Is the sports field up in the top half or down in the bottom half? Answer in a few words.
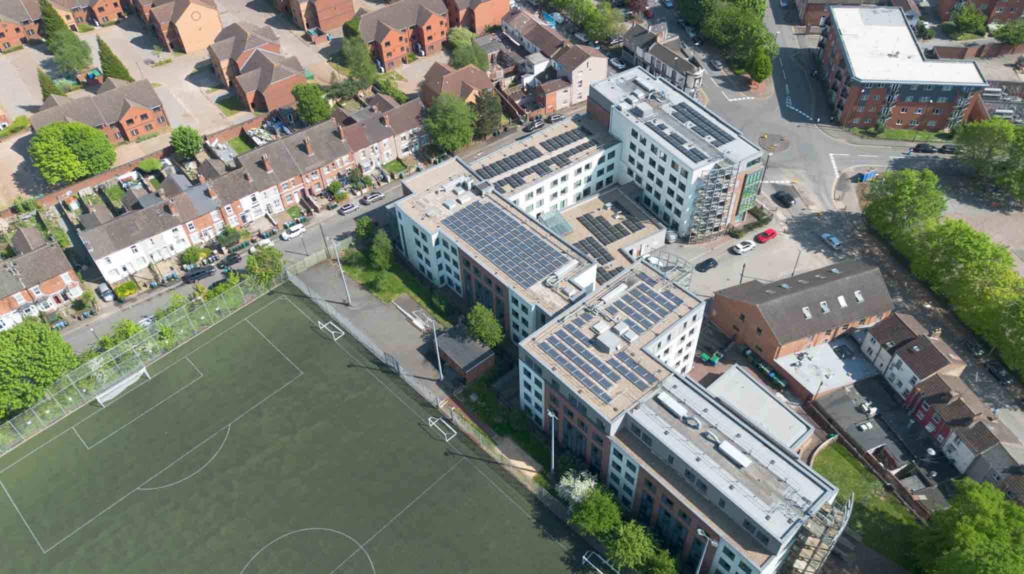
bottom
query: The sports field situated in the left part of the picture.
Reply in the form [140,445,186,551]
[0,283,601,574]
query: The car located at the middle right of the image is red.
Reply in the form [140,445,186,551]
[755,225,778,240]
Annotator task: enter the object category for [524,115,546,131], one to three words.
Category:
car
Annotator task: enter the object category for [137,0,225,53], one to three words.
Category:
house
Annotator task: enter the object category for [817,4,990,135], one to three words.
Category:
building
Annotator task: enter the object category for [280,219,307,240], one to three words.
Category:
vehicle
